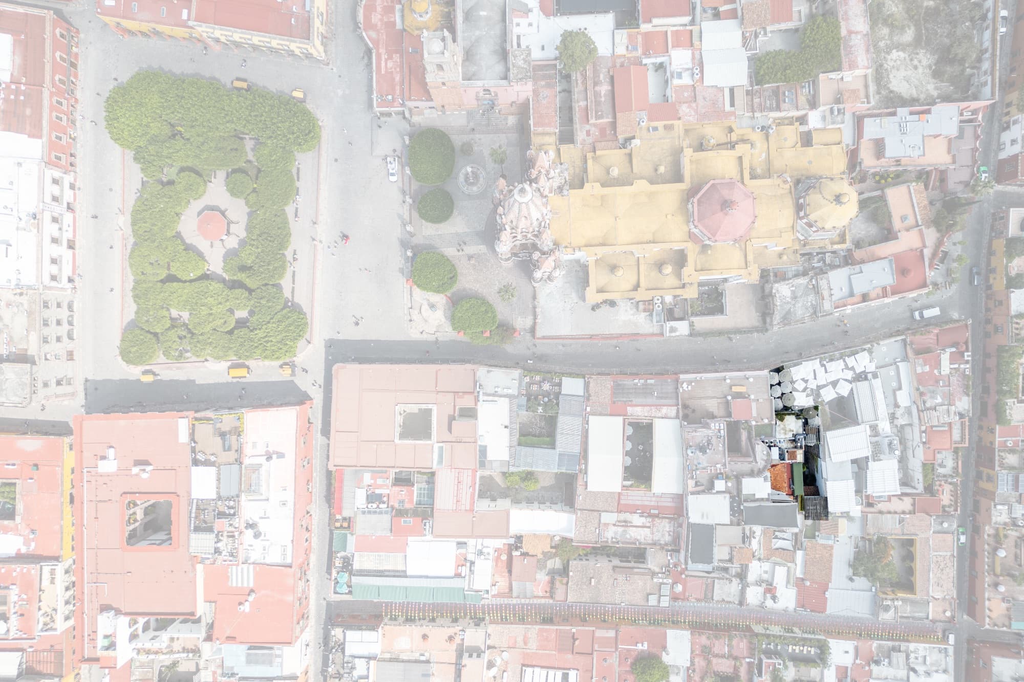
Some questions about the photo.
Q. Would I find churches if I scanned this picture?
Yes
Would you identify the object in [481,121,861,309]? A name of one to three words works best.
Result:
church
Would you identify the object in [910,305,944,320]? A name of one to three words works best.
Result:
vehicle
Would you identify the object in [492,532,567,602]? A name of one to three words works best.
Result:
building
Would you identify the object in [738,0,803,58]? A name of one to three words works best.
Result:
house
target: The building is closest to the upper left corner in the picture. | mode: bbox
[0,2,81,104]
